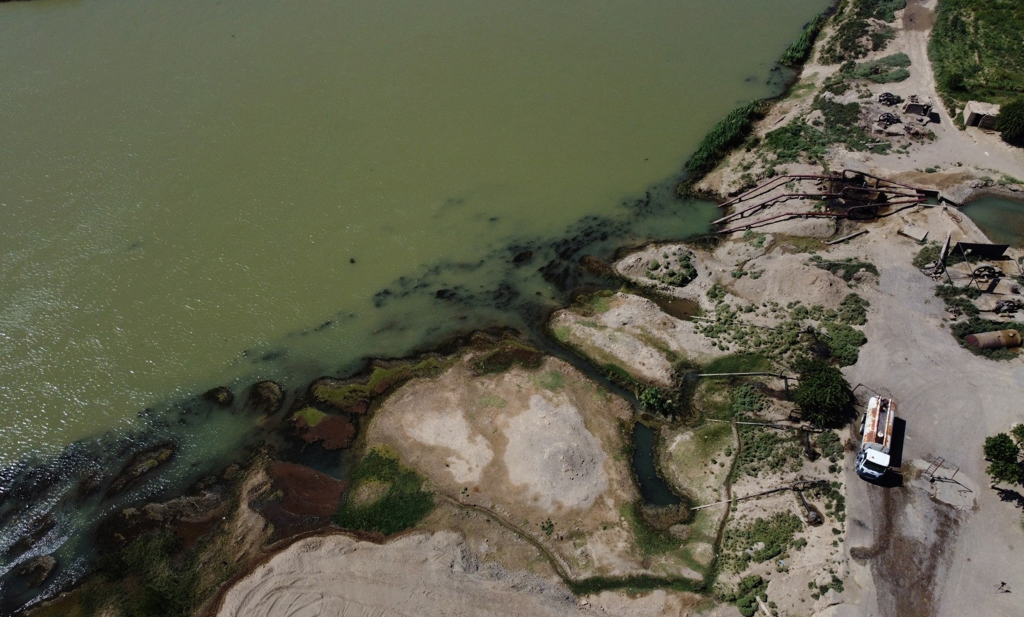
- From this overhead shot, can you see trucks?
Yes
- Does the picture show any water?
Yes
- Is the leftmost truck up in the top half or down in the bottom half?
bottom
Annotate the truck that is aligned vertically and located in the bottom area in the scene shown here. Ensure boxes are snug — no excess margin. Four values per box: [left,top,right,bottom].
[855,395,896,485]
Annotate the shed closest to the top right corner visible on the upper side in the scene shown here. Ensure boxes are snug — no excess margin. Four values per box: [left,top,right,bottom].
[964,98,1014,131]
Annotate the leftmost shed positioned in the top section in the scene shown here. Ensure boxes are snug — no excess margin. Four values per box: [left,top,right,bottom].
[902,93,936,117]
